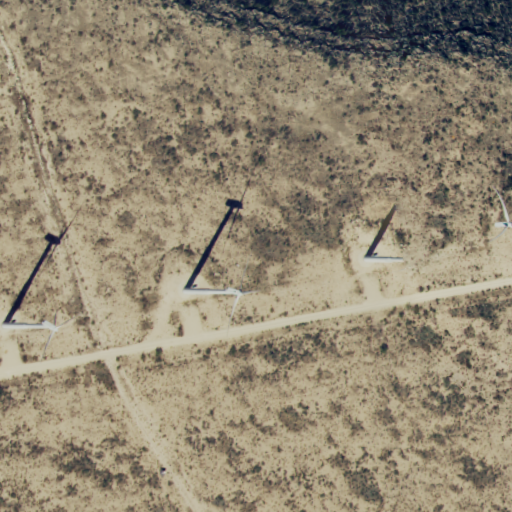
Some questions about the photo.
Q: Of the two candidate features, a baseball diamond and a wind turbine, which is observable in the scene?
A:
wind turbine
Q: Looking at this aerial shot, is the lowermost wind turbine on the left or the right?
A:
left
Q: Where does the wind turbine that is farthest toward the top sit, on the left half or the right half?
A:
right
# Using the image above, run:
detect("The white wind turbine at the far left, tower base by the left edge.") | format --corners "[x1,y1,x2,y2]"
[0,309,74,366]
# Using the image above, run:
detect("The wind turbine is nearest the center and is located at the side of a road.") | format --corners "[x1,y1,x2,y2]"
[180,277,256,328]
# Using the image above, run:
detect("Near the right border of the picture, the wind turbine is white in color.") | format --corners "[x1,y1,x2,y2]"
[486,190,512,246]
